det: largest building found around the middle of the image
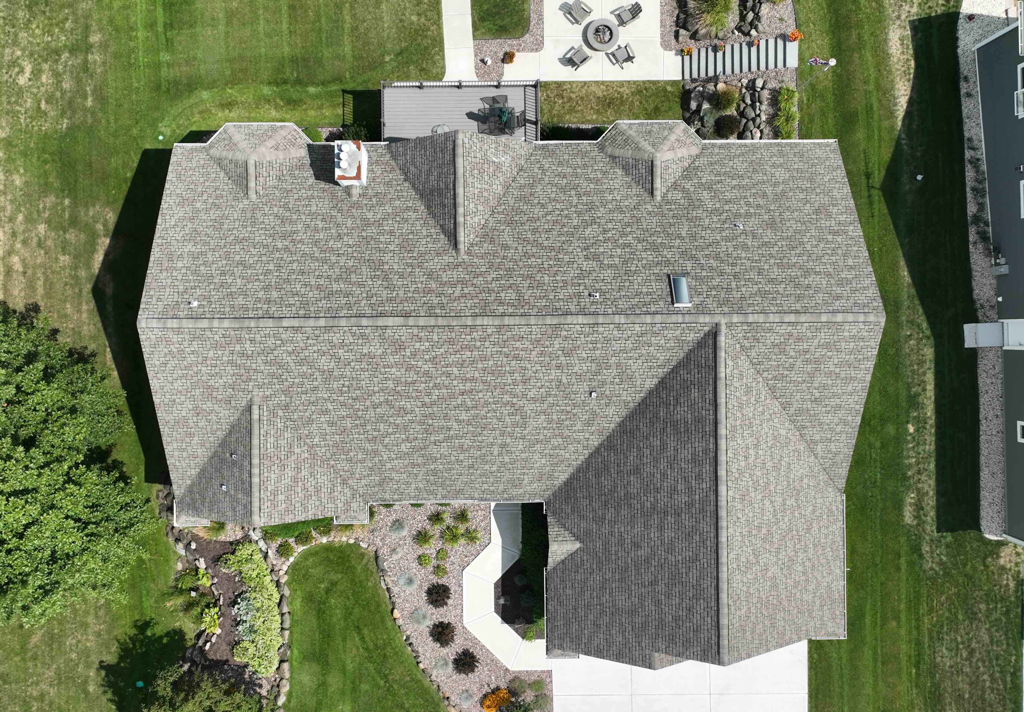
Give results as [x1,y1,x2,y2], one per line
[136,120,886,671]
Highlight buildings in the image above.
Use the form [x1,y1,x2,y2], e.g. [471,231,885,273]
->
[975,10,1024,543]
[136,120,886,671]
